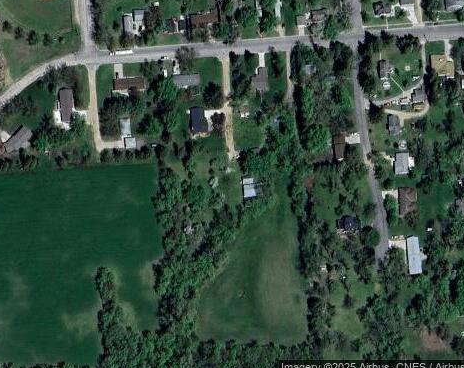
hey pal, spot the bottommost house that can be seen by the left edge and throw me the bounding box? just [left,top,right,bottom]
[3,127,32,154]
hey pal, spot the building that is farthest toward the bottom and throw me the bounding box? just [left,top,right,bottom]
[404,236,422,276]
